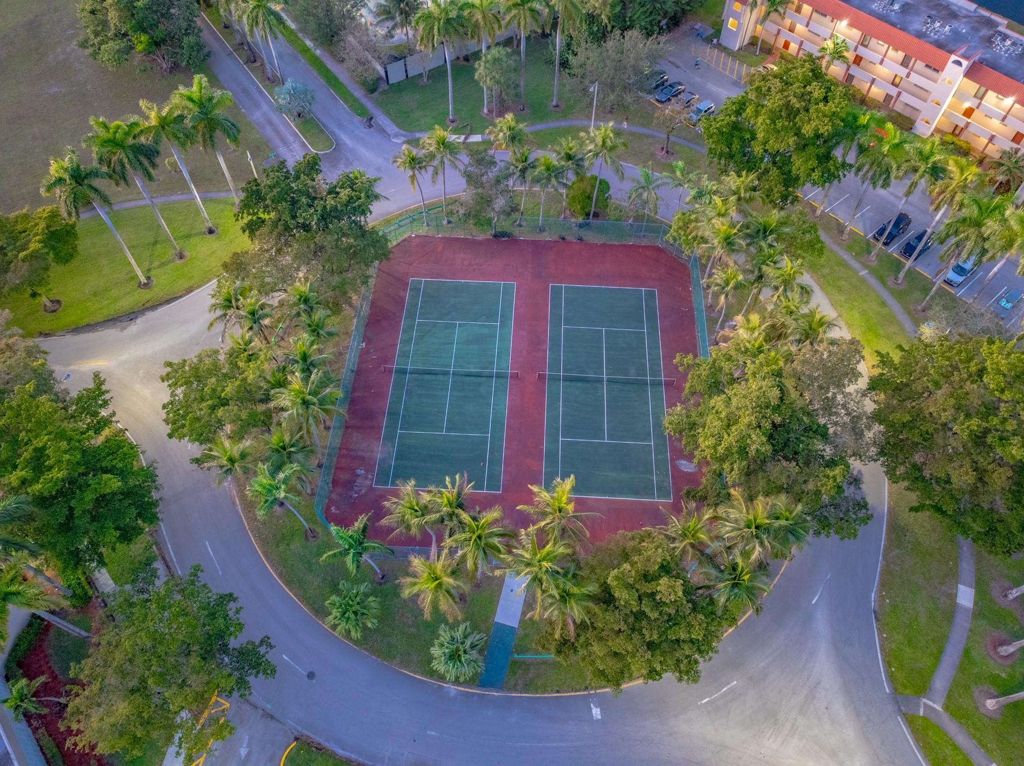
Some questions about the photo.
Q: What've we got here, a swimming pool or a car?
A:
car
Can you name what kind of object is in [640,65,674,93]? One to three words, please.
car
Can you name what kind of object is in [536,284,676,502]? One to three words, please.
tennis court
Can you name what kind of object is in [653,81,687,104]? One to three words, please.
car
